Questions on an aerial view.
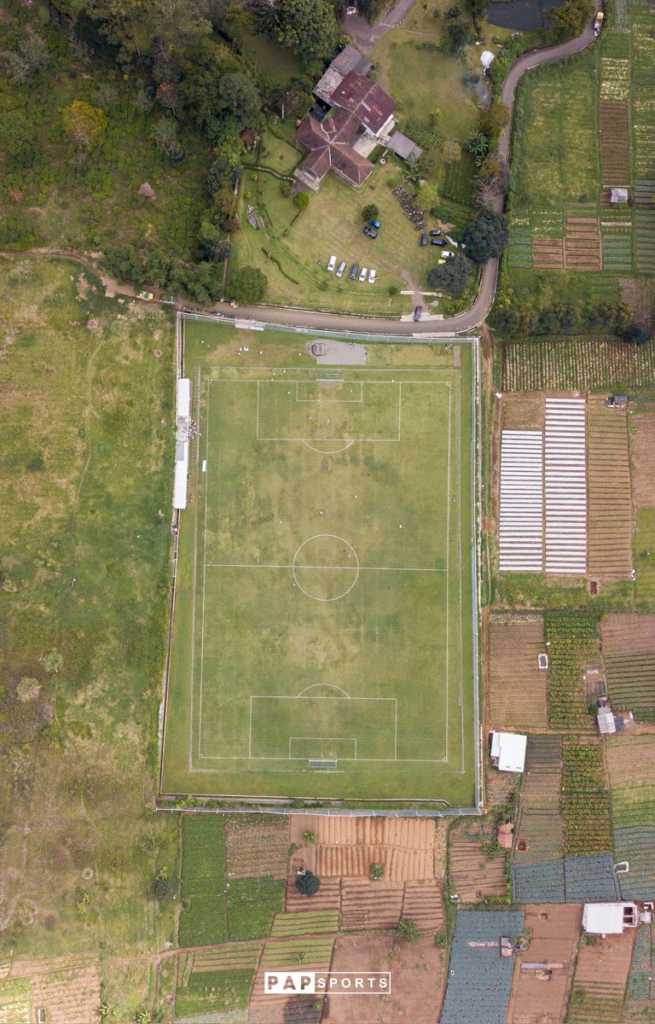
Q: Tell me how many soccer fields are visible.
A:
1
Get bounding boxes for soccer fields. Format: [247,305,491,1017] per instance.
[164,319,475,806]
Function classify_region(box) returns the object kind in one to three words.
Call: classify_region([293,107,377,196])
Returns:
house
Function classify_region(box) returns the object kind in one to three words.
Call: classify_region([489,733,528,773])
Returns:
barn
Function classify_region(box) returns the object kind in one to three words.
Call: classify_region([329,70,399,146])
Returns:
building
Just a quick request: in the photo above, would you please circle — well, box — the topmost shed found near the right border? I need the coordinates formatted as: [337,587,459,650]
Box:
[608,188,628,206]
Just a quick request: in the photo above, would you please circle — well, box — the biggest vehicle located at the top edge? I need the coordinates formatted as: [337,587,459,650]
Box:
[593,11,605,30]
